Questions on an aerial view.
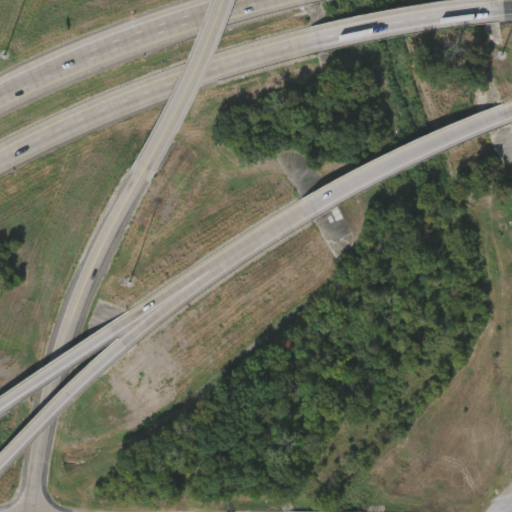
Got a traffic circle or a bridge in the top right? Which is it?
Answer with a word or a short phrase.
bridge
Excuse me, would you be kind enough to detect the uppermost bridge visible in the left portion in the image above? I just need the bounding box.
[129,0,235,184]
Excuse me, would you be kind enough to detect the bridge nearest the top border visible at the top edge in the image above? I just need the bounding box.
[308,0,502,72]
